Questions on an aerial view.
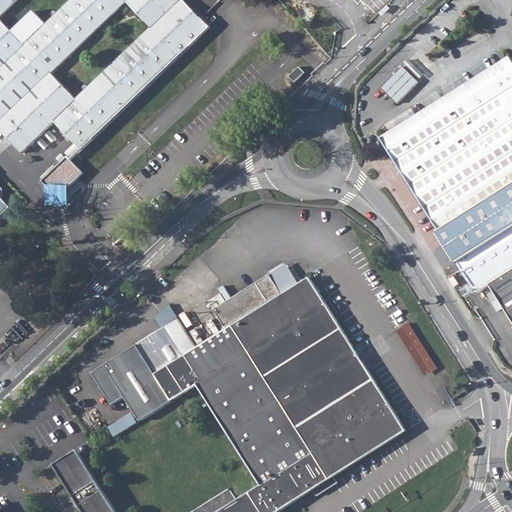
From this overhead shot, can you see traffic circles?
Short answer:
Yes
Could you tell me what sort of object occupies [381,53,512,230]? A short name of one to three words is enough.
building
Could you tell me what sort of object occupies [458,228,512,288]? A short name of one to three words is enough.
building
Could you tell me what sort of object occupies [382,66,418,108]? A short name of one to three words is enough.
shed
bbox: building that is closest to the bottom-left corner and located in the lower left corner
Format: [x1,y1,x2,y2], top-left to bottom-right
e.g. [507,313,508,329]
[51,448,116,512]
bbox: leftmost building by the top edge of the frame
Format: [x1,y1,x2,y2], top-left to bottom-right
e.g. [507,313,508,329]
[0,0,211,158]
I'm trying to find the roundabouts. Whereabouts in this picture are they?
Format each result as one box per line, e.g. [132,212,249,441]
[268,111,348,197]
